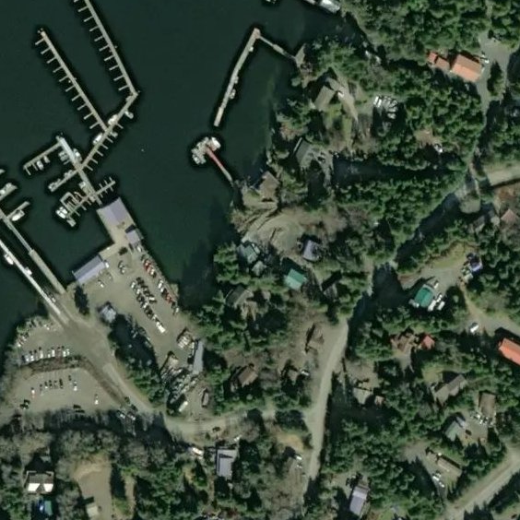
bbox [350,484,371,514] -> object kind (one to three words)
house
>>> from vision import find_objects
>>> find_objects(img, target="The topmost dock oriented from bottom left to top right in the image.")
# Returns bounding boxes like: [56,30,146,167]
[214,27,295,125]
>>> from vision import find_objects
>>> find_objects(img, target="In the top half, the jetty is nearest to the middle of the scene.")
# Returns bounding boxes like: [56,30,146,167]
[191,137,235,187]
